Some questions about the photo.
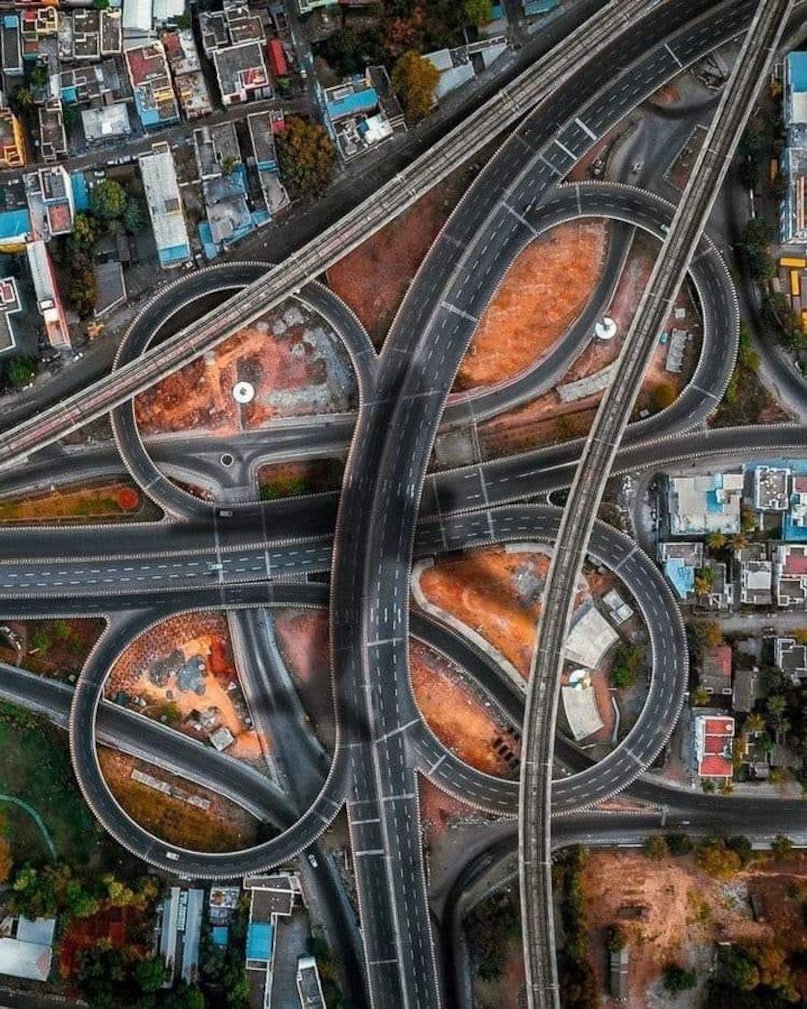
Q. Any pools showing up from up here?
No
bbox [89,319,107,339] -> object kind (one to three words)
work vehicle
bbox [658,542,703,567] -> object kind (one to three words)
house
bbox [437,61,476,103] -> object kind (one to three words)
shed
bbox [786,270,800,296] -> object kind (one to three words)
vehicle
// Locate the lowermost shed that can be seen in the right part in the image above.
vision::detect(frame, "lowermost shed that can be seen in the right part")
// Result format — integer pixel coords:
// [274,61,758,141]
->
[608,940,630,999]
